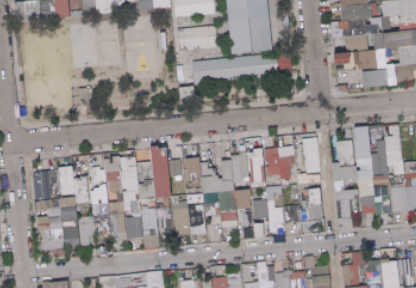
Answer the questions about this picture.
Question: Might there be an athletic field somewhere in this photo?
Yes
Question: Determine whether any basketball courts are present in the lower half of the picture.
No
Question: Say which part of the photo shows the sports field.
top left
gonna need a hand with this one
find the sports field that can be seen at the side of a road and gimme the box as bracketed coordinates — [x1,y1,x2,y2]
[24,25,74,120]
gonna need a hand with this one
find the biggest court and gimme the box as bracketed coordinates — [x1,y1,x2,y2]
[126,14,160,78]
